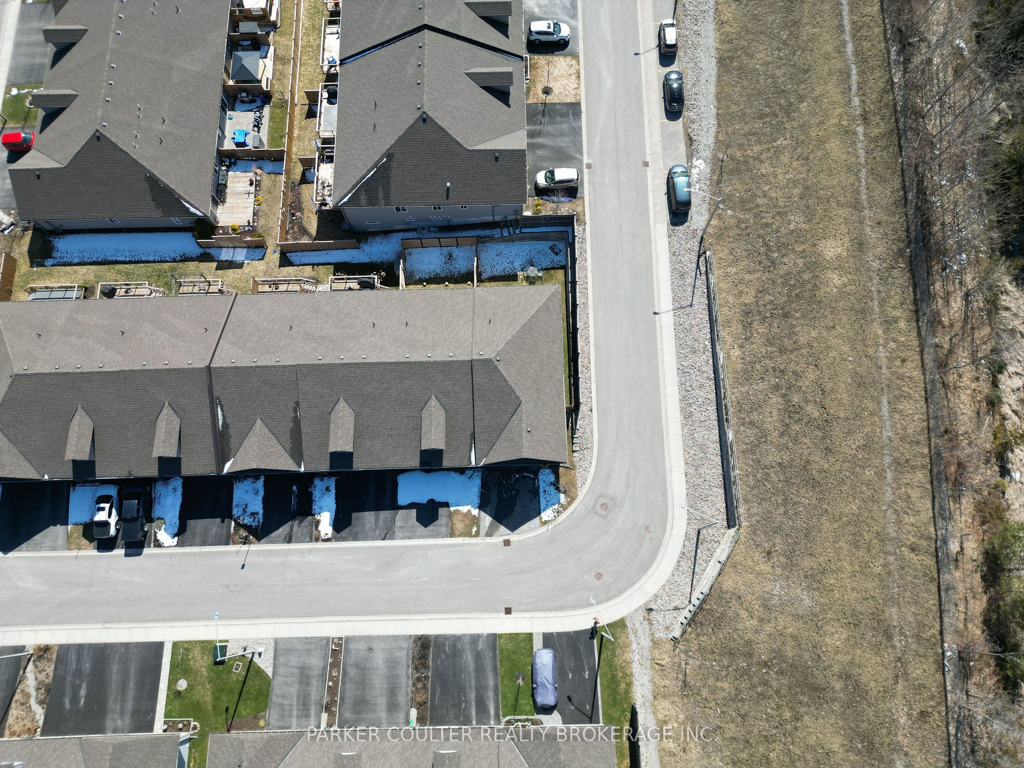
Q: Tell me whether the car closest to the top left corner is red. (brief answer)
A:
Yes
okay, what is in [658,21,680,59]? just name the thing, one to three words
car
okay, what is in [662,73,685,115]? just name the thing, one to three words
car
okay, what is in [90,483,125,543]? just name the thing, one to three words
truck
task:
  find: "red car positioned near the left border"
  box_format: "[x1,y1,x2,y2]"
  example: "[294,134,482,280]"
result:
[0,129,36,155]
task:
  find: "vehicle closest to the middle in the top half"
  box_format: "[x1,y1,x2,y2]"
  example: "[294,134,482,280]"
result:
[533,169,582,195]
